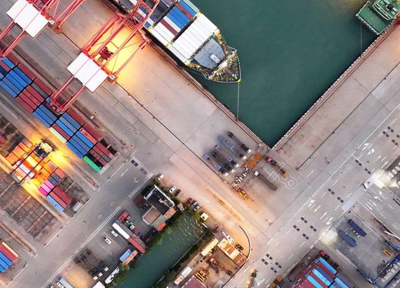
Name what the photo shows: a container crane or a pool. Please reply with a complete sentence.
There is a container crane in the scene.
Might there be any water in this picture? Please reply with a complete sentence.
Yes, water shows up in the scene.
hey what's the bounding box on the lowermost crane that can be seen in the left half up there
[8,138,56,186]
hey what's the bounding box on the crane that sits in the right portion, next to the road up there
[356,237,400,285]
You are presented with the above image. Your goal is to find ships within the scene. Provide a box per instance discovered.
[116,0,241,82]
[355,0,400,37]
